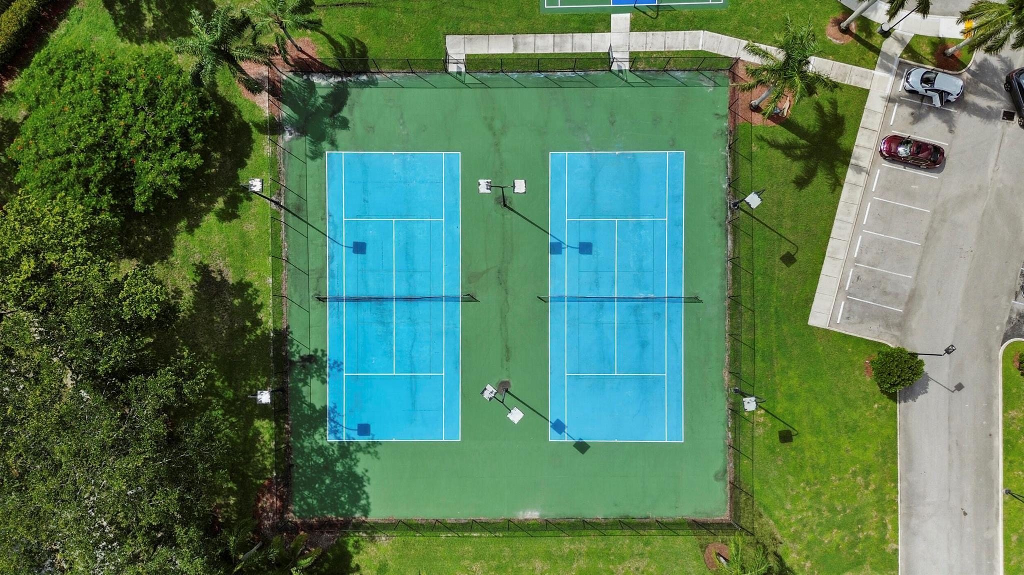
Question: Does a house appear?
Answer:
No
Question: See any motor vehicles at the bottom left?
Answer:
No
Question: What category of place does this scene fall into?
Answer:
sports ground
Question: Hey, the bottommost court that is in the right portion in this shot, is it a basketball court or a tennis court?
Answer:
tennis court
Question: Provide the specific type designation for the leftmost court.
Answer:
tennis court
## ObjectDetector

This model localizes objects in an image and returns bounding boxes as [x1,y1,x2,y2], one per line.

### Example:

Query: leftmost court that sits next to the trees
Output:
[282,71,505,519]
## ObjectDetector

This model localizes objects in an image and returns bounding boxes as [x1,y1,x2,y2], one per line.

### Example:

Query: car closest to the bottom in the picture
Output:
[881,134,944,168]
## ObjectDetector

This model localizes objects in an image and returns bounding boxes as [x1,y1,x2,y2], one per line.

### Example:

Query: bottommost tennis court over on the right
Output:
[505,70,729,518]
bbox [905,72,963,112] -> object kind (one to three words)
car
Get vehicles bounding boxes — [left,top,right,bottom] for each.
[881,134,944,168]
[905,72,963,112]
[1008,70,1024,123]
